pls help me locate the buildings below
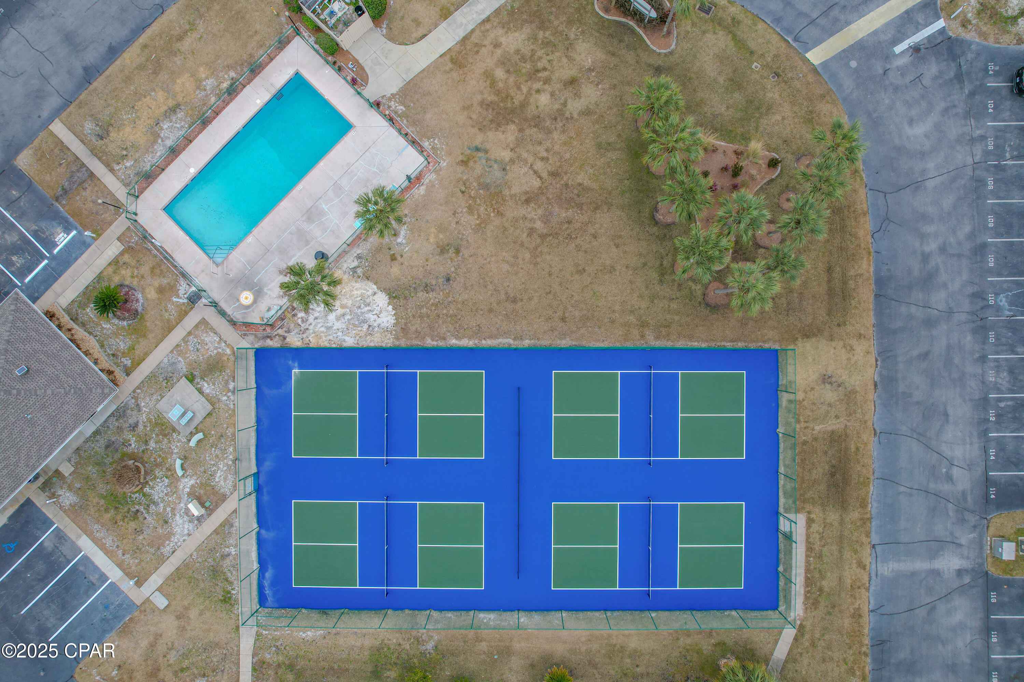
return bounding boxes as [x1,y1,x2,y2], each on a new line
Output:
[0,288,120,511]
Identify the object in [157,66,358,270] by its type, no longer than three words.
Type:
swimming pool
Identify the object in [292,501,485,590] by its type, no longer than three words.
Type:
sports court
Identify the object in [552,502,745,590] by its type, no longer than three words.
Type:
sports court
